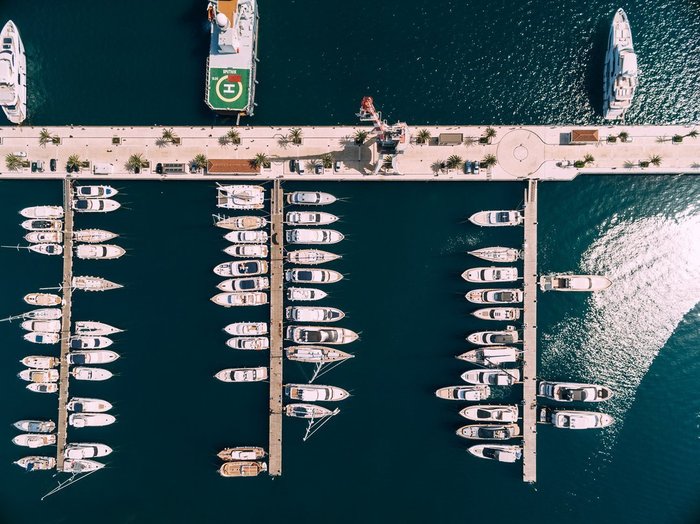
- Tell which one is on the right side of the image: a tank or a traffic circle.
traffic circle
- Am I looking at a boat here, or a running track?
boat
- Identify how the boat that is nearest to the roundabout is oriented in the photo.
from side to side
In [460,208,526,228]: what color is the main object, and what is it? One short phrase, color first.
white boat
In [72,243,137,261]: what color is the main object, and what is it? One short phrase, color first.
white boat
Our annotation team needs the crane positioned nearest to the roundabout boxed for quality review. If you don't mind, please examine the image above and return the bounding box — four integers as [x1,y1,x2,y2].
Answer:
[357,97,409,174]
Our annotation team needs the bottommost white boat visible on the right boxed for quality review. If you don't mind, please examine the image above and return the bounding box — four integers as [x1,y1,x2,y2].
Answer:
[458,443,522,463]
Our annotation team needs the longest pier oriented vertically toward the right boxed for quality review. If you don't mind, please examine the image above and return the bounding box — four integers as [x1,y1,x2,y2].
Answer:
[522,203,537,482]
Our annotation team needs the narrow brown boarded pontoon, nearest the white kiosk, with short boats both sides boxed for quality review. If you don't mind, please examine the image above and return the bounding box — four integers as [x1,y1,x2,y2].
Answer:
[56,182,75,471]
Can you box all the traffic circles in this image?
[496,128,545,177]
